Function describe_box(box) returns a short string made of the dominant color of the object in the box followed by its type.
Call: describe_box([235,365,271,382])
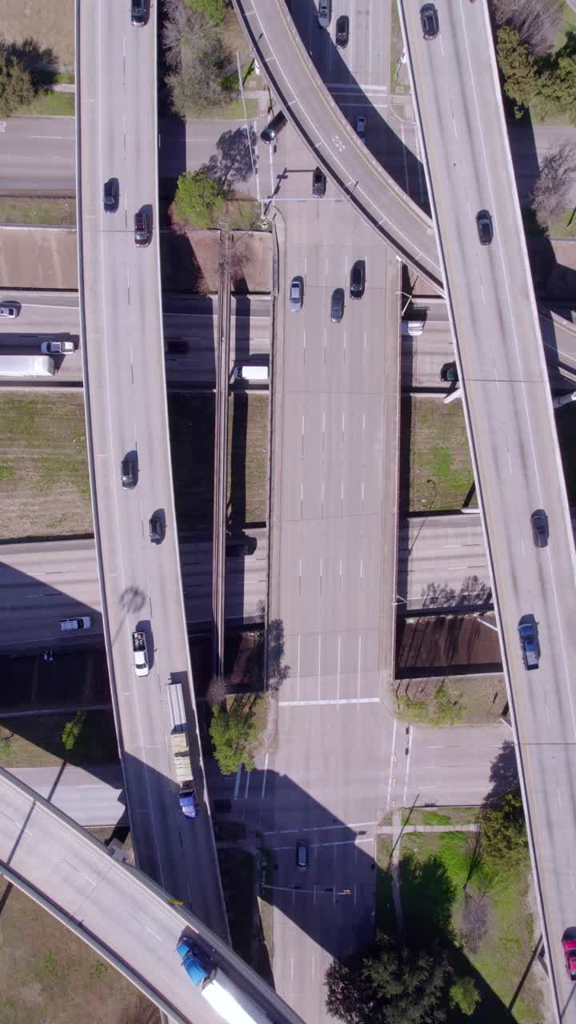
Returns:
white vehicle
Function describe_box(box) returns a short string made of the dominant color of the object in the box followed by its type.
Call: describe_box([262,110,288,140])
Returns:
black car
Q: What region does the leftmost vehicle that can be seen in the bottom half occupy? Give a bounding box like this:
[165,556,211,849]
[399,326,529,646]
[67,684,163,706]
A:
[58,616,94,630]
